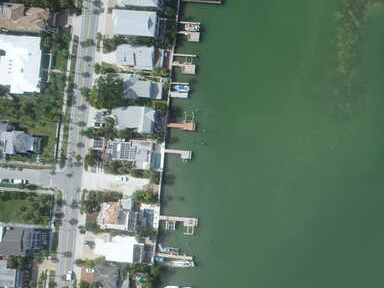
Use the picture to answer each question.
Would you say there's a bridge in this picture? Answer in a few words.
No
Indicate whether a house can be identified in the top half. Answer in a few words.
Yes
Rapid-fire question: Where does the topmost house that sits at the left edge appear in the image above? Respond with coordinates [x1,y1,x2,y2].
[0,2,54,31]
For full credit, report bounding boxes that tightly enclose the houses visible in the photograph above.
[112,106,158,134]
[110,142,157,169]
[117,0,163,9]
[0,35,49,94]
[0,226,39,252]
[0,121,44,155]
[111,9,161,39]
[124,80,166,99]
[115,45,158,71]
[101,200,135,225]
[0,2,54,31]
[0,260,23,288]
[95,235,142,262]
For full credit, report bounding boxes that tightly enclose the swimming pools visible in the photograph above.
[143,208,154,222]
[155,152,161,168]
